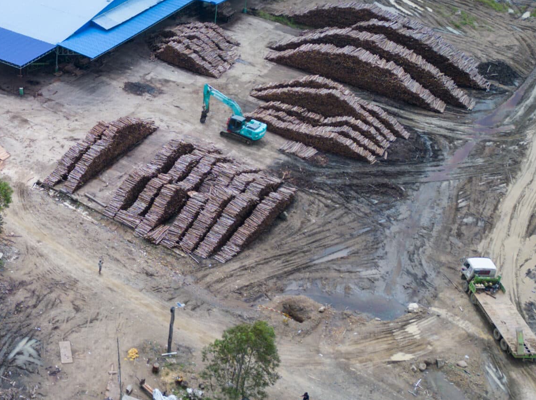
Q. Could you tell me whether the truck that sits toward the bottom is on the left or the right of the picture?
right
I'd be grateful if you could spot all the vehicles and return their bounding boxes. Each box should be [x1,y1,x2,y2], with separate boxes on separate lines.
[457,258,536,363]
[199,80,259,144]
